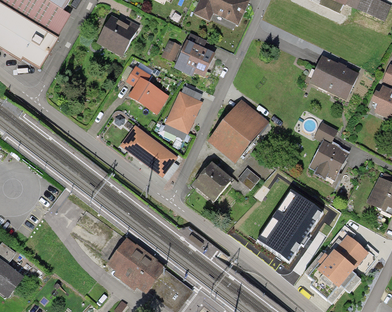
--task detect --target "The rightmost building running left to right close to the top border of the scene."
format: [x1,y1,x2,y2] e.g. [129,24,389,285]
[346,0,392,22]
